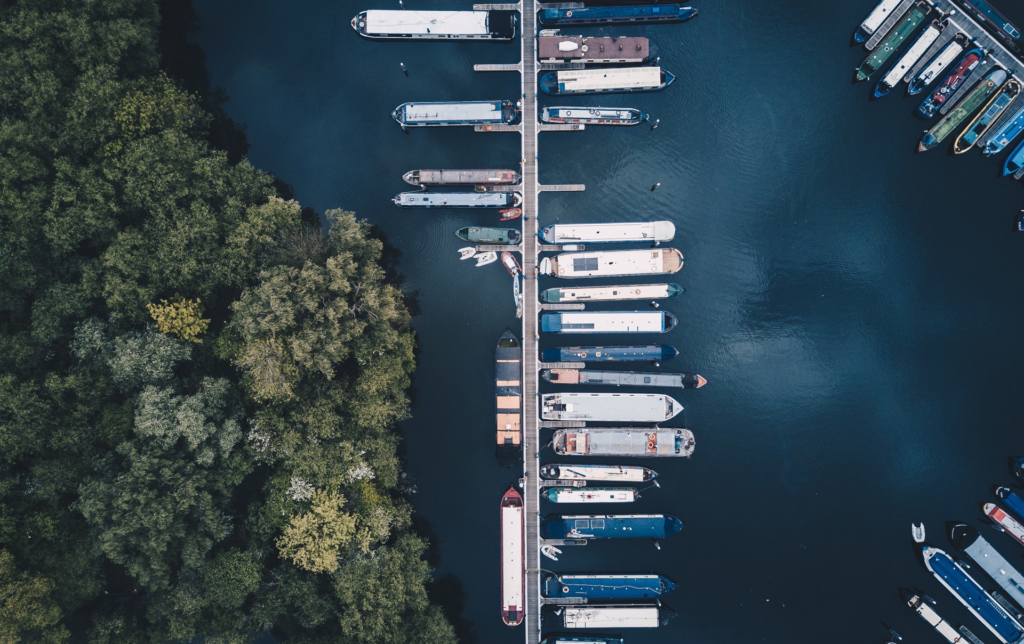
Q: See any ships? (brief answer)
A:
Yes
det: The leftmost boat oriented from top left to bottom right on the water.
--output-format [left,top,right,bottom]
[501,252,523,280]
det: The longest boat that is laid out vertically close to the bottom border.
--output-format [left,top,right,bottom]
[499,483,524,627]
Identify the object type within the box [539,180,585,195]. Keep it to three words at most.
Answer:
pier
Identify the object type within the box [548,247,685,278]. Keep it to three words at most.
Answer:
ship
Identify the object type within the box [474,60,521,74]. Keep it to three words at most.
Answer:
pier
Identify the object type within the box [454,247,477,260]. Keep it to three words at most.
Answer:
boat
